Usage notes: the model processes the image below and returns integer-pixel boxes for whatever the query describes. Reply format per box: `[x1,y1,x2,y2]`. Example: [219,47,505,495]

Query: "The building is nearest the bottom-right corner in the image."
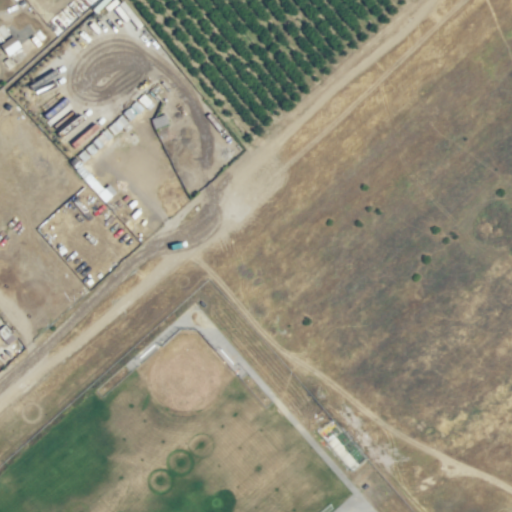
[330,436,360,471]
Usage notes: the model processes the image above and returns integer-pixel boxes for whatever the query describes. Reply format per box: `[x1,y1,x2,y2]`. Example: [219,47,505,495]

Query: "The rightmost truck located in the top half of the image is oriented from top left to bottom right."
[205,113,231,140]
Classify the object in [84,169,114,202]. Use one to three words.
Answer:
building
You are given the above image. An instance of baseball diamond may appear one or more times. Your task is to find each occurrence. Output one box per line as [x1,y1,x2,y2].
[0,329,351,512]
